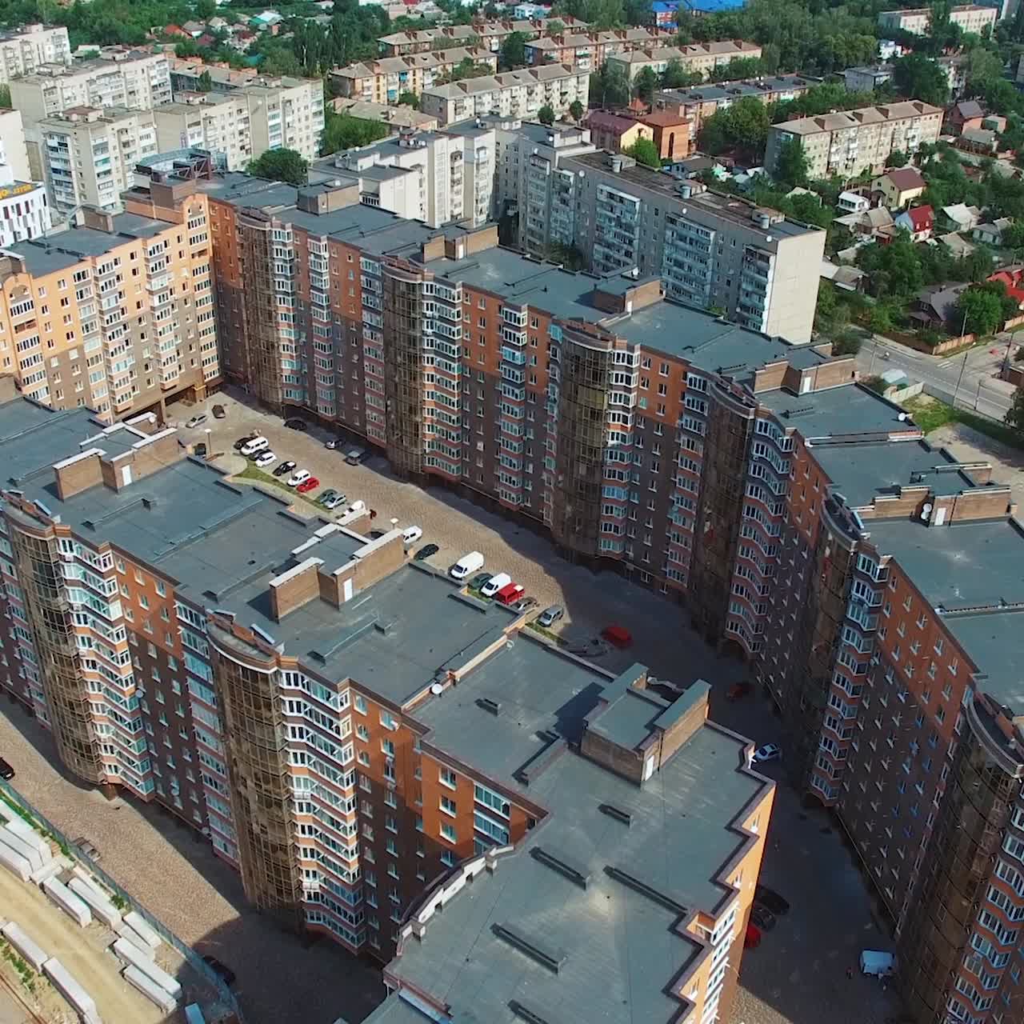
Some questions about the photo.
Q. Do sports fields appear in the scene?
No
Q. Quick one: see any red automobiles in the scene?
Yes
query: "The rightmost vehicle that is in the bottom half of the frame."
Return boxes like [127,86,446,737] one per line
[848,942,907,976]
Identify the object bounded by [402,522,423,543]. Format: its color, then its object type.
white car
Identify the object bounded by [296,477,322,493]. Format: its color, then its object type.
red car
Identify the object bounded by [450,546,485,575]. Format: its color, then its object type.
white car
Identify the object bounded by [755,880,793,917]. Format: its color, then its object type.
black car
